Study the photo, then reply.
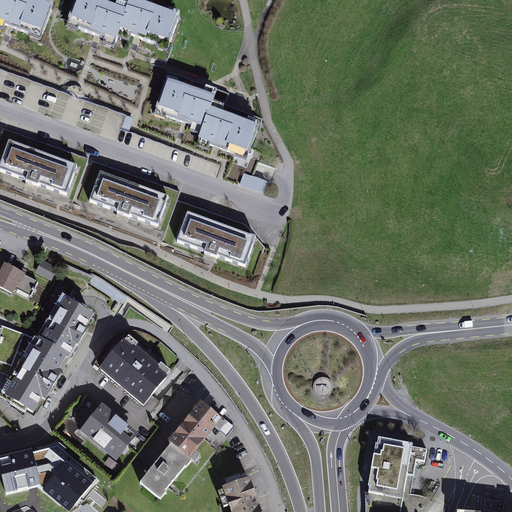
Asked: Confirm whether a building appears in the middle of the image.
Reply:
Yes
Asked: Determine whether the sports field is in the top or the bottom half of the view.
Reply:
top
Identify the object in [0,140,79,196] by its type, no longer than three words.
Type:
building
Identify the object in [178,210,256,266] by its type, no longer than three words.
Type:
building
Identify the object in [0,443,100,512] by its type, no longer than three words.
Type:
house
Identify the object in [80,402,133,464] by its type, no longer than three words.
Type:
house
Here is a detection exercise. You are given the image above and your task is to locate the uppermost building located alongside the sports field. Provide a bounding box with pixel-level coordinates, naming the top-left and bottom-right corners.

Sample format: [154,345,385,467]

[67,0,181,54]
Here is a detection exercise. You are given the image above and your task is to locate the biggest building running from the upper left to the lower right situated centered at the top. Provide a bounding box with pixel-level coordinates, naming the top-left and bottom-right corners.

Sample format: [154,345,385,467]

[153,76,262,171]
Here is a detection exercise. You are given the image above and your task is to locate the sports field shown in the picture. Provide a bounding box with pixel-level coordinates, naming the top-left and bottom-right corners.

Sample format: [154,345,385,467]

[170,0,243,80]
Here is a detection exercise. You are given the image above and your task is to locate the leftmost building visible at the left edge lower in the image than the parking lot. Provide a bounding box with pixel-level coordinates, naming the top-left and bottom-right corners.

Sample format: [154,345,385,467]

[0,262,38,296]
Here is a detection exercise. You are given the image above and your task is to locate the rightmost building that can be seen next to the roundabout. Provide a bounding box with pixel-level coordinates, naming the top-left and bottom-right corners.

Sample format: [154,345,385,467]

[368,436,427,501]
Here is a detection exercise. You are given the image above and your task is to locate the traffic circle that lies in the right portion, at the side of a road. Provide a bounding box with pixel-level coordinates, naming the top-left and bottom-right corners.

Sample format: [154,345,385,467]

[272,310,380,430]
